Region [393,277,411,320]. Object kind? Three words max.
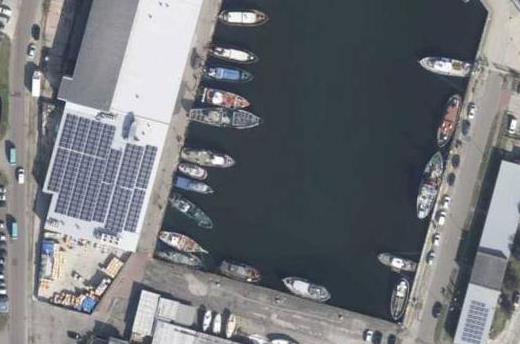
boat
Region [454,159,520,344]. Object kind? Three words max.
building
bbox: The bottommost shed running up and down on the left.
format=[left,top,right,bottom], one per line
[132,290,162,338]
